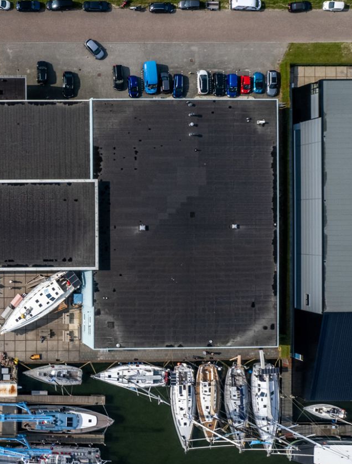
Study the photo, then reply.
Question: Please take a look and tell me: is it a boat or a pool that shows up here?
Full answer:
Of the two, only a boat appears.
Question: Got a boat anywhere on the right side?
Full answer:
Yes, you'll find a boat on the right side.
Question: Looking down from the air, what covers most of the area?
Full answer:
The largest share of the image is taken up by buildings.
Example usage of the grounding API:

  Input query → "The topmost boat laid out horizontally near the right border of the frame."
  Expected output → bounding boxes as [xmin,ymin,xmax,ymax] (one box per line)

[303,404,352,424]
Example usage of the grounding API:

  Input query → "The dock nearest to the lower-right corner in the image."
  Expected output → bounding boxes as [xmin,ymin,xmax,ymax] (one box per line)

[281,421,352,439]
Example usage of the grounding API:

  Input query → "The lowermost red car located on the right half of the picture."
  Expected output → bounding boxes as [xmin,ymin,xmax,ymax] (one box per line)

[239,74,251,94]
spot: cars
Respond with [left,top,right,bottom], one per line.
[0,0,10,11]
[148,1,174,14]
[265,71,279,95]
[239,74,251,94]
[112,64,125,91]
[322,0,344,11]
[287,0,310,13]
[35,61,48,84]
[46,0,73,11]
[17,0,40,12]
[62,72,74,97]
[82,0,110,12]
[196,71,210,95]
[127,75,139,96]
[84,38,105,61]
[213,73,226,97]
[177,0,199,10]
[170,73,183,97]
[158,72,170,93]
[252,72,265,93]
